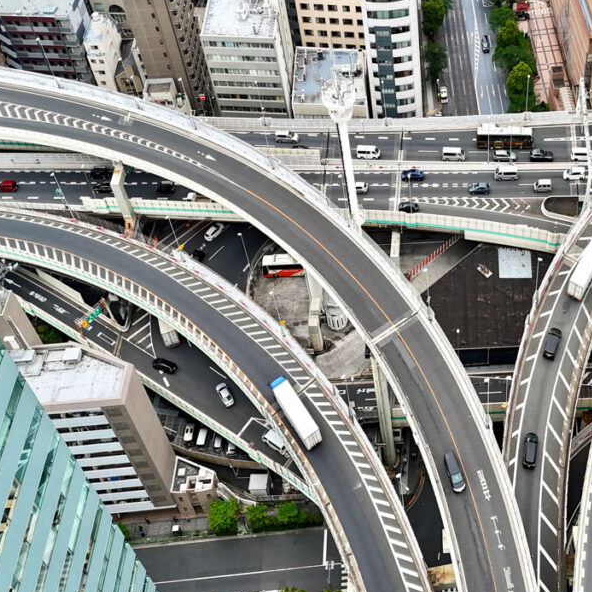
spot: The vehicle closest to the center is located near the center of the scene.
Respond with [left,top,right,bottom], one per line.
[258,256,307,277]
